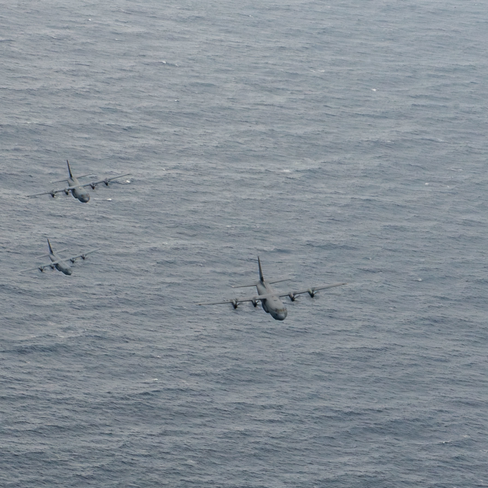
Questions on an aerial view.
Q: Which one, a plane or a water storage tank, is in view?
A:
plane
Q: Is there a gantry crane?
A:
No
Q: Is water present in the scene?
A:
Yes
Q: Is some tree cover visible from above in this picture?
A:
No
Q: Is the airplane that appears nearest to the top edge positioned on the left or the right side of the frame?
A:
left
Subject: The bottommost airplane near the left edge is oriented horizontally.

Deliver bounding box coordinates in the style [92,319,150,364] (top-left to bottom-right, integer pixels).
[18,238,101,274]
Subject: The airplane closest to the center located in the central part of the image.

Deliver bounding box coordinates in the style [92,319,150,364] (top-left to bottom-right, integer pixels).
[194,255,347,320]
